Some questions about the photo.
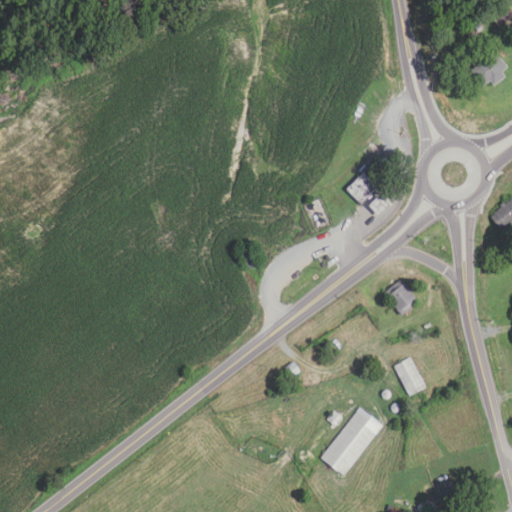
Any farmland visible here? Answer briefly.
Yes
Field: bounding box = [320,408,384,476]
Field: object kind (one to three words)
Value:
barn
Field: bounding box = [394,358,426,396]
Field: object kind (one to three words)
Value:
barn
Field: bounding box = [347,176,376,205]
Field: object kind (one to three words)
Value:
building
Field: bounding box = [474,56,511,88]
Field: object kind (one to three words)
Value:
house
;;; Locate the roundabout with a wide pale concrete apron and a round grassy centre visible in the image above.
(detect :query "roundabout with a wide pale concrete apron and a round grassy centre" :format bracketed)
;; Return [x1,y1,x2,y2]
[374,58,512,262]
